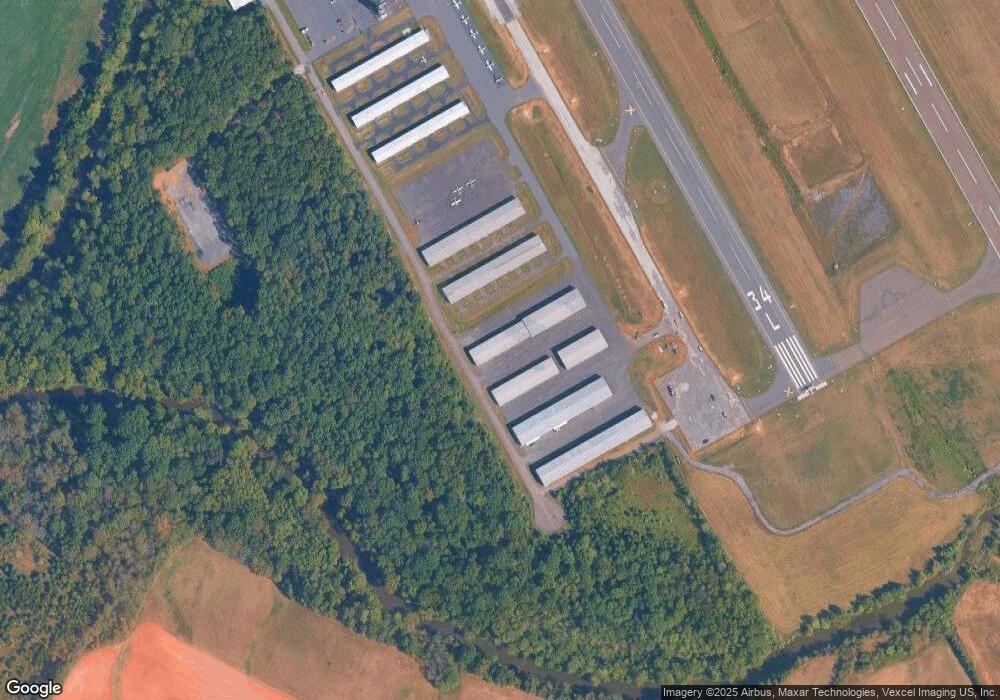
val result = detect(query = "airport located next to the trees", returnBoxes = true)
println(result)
[284,0,1000,494]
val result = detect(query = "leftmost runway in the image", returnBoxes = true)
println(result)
[572,0,826,399]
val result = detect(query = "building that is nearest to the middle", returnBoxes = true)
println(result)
[470,320,532,366]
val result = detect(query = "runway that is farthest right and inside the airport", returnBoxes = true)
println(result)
[855,0,1000,257]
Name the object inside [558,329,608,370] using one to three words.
hangar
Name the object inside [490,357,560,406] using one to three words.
hangar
